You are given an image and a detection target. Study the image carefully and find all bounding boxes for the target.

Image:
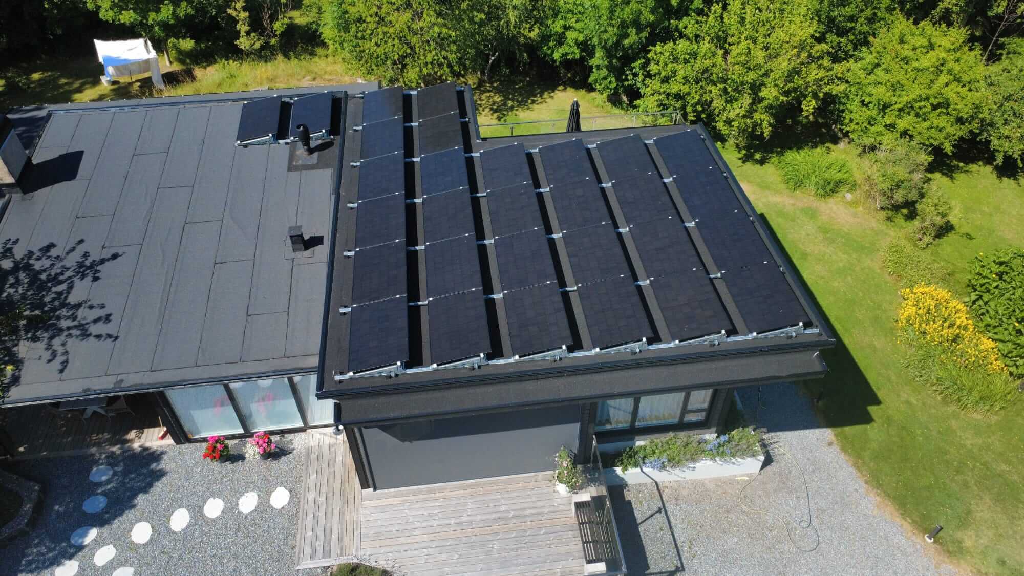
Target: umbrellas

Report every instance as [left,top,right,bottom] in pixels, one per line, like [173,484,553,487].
[567,101,583,132]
